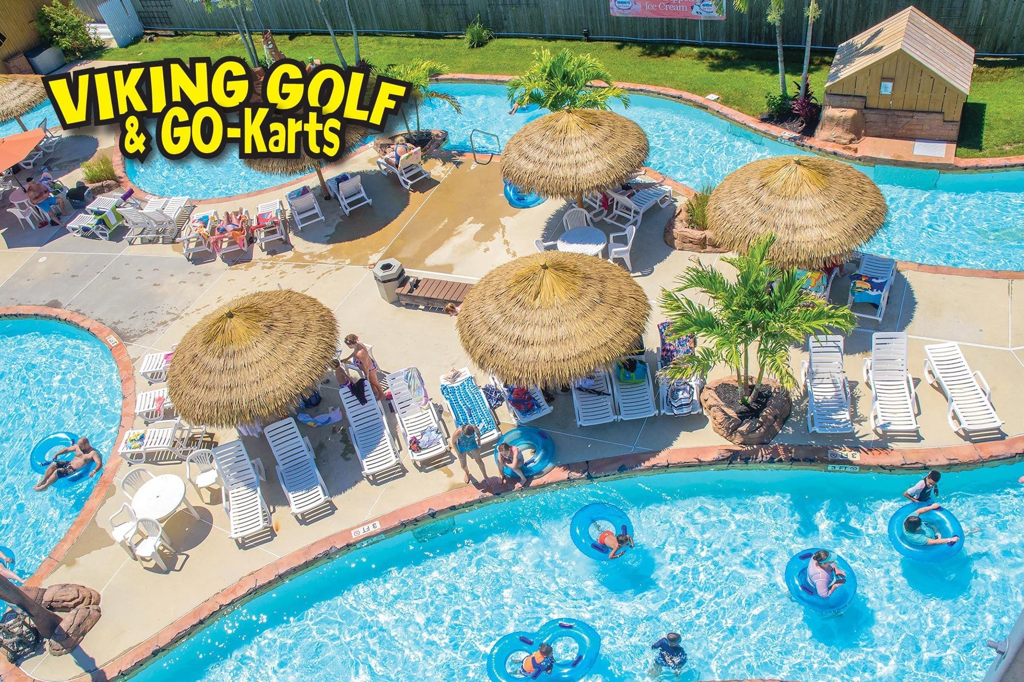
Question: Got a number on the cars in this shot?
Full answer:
There are no cars in this view.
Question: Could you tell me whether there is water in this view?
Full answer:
Yes, the picture does contain water.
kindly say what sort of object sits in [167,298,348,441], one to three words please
umbrella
